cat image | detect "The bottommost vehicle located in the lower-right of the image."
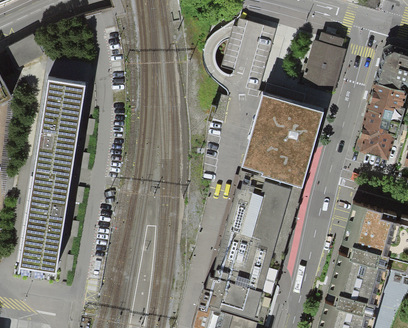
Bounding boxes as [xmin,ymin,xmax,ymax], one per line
[294,264,306,293]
